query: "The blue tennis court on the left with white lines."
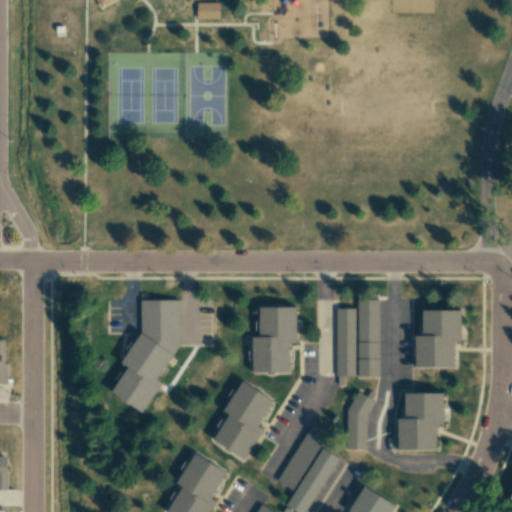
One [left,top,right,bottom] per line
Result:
[118,68,146,124]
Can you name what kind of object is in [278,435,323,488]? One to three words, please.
building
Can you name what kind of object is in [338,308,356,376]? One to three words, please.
building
